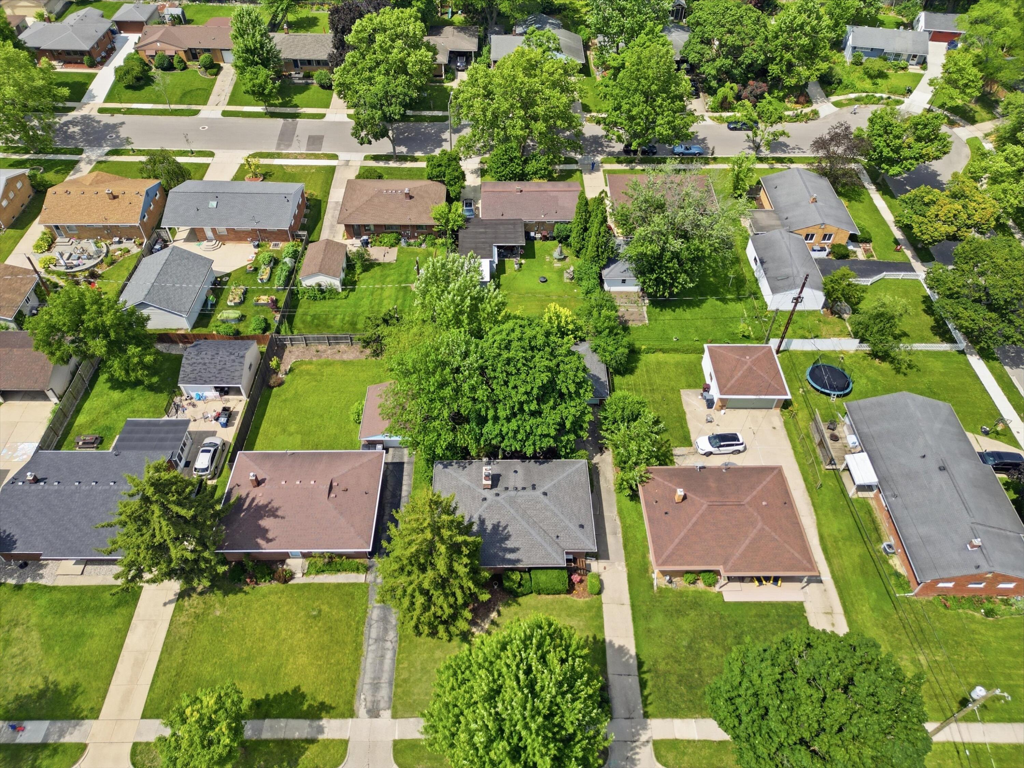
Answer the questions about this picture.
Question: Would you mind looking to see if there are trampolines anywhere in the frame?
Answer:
Yes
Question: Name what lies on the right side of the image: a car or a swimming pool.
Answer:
car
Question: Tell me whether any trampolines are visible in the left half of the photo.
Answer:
No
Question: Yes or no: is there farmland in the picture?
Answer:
No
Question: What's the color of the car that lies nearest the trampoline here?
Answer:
white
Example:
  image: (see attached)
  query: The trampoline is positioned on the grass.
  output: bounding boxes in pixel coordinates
[803,351,856,406]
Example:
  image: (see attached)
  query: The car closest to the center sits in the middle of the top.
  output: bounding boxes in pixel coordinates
[461,198,479,219]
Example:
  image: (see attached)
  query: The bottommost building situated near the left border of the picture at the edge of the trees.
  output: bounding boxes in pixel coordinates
[0,418,197,570]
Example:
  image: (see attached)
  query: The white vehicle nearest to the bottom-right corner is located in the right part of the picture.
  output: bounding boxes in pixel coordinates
[692,428,749,457]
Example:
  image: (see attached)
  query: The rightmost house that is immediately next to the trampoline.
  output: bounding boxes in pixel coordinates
[834,394,1024,598]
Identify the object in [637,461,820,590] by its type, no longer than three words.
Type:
house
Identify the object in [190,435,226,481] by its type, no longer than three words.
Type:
car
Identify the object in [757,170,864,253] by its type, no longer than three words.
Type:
house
